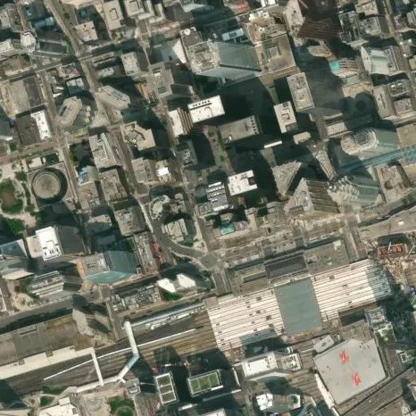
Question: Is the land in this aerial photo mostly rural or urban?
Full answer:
From above, the setting appears urban.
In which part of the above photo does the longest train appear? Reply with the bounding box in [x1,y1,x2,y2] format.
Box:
[23,364,85,383]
